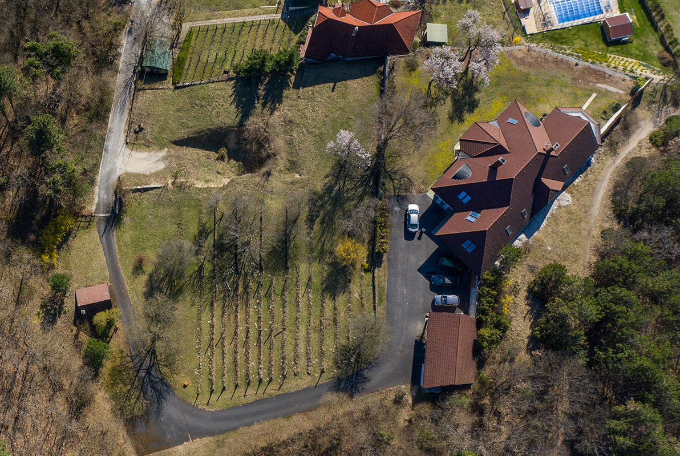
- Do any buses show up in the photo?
No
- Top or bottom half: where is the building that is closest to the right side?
top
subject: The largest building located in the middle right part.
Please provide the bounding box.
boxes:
[430,100,601,277]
